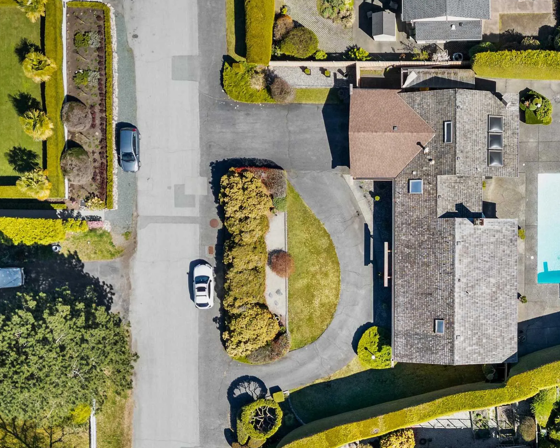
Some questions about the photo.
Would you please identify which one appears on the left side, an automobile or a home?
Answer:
automobile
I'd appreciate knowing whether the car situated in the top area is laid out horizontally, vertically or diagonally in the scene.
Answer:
vertically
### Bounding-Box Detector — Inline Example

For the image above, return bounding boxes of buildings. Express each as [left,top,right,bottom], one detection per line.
[373,11,396,41]
[401,0,491,42]
[348,83,519,366]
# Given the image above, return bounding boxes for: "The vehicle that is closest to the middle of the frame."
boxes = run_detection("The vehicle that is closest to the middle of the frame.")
[190,262,215,310]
